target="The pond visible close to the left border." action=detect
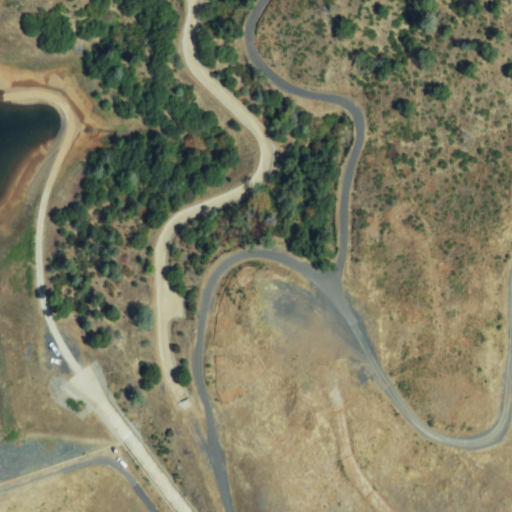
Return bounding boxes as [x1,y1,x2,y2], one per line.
[0,105,60,194]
